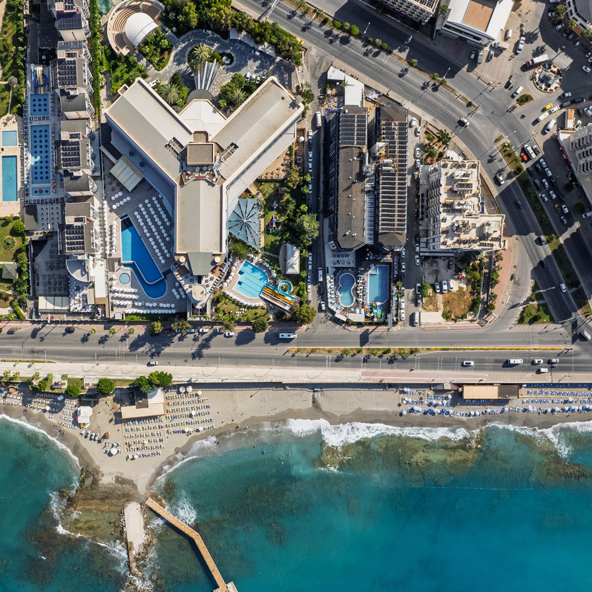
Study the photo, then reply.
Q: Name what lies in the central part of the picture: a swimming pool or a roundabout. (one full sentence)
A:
You can see a swimming pool in the central part of the picture.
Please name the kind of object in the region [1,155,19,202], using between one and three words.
swimming pool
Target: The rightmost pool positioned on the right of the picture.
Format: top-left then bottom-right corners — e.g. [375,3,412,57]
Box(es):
[368,264,390,304]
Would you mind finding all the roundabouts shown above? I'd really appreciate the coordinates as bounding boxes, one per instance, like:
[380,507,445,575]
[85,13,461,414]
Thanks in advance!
[534,63,562,92]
